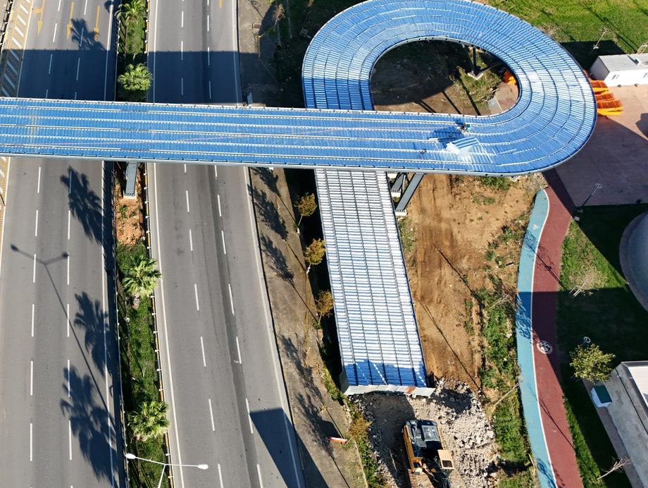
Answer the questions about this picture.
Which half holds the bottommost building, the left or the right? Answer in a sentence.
It is on the right.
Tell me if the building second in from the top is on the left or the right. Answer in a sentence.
The building second in from the top appears in the right half of the scene.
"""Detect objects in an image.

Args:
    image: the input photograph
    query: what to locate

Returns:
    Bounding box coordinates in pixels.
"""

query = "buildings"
[594,360,648,481]
[606,213,648,308]
[592,53,648,86]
